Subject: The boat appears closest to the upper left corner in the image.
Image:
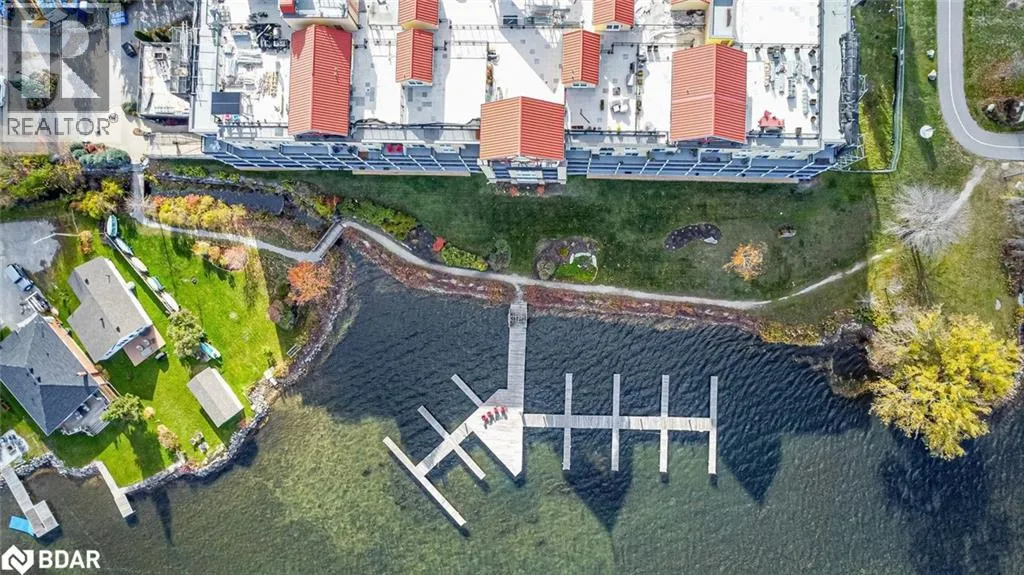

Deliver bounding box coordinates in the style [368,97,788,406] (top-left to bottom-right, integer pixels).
[104,215,116,239]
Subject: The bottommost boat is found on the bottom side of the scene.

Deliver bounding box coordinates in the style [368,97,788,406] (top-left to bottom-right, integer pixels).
[199,342,218,360]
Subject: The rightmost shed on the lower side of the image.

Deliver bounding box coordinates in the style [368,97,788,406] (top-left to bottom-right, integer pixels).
[188,367,246,428]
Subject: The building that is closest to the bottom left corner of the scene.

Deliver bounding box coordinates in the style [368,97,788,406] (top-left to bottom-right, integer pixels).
[0,313,120,440]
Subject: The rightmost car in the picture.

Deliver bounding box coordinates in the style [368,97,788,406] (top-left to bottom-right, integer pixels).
[114,32,139,62]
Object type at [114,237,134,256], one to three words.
boat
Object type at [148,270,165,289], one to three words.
boat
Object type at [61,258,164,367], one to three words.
house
